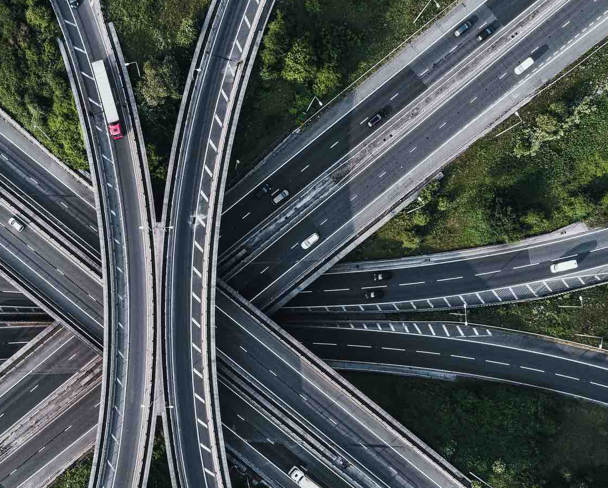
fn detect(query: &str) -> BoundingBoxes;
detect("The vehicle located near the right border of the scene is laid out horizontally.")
[548,258,579,273]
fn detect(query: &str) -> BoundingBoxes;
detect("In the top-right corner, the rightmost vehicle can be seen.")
[510,55,537,77]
